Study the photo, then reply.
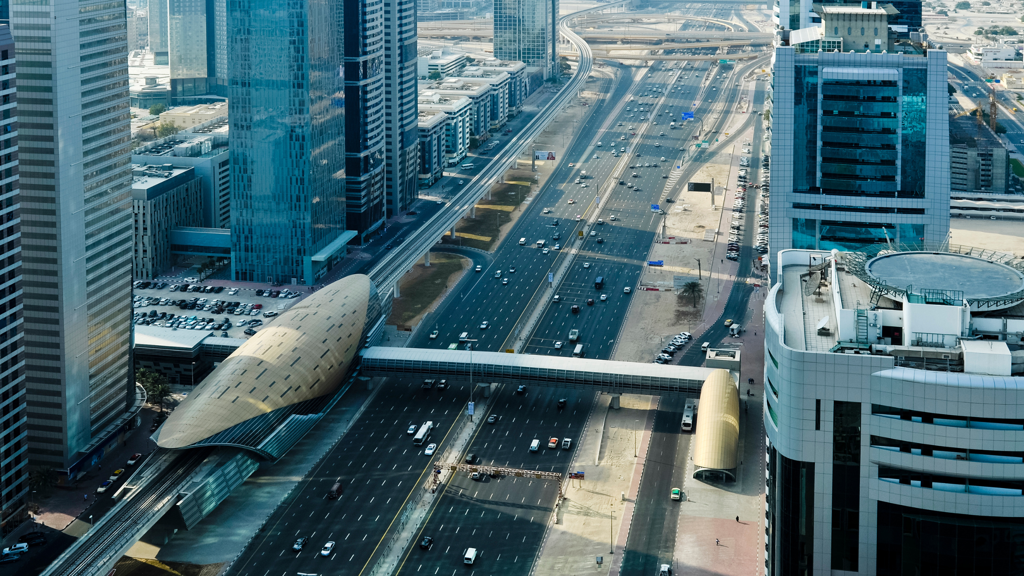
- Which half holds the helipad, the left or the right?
right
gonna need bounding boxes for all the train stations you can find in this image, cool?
[108,263,419,531]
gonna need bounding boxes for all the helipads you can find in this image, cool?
[843,236,1024,342]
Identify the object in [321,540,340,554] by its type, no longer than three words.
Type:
car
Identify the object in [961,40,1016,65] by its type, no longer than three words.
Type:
building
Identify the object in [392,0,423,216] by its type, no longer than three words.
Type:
building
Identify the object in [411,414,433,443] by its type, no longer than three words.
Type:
bus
